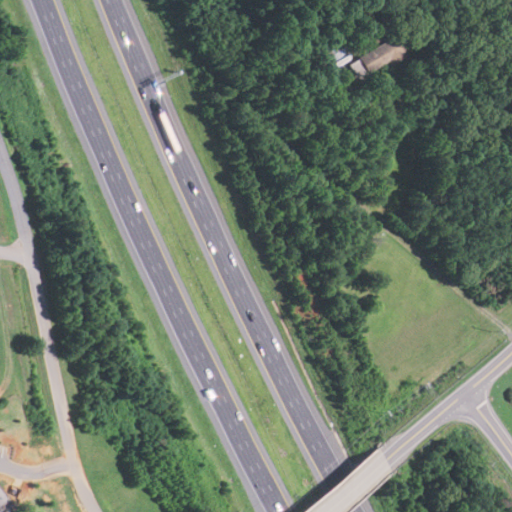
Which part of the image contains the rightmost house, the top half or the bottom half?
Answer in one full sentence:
The rightmost house is in the top half of the image.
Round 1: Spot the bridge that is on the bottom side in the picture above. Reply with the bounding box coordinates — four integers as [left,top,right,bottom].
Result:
[306,444,402,512]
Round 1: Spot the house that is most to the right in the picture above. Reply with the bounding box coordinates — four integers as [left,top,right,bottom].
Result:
[360,41,404,73]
